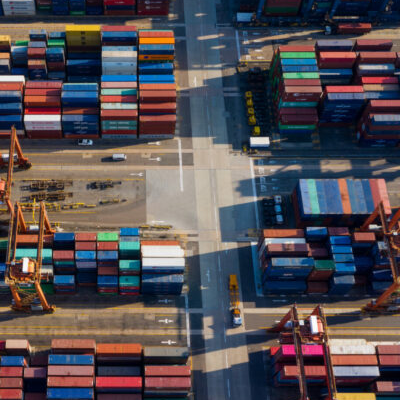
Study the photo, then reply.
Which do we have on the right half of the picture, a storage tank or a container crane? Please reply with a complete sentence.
There is a container crane on the right half of the picture.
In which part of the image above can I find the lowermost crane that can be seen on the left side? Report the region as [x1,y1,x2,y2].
[5,202,56,311]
